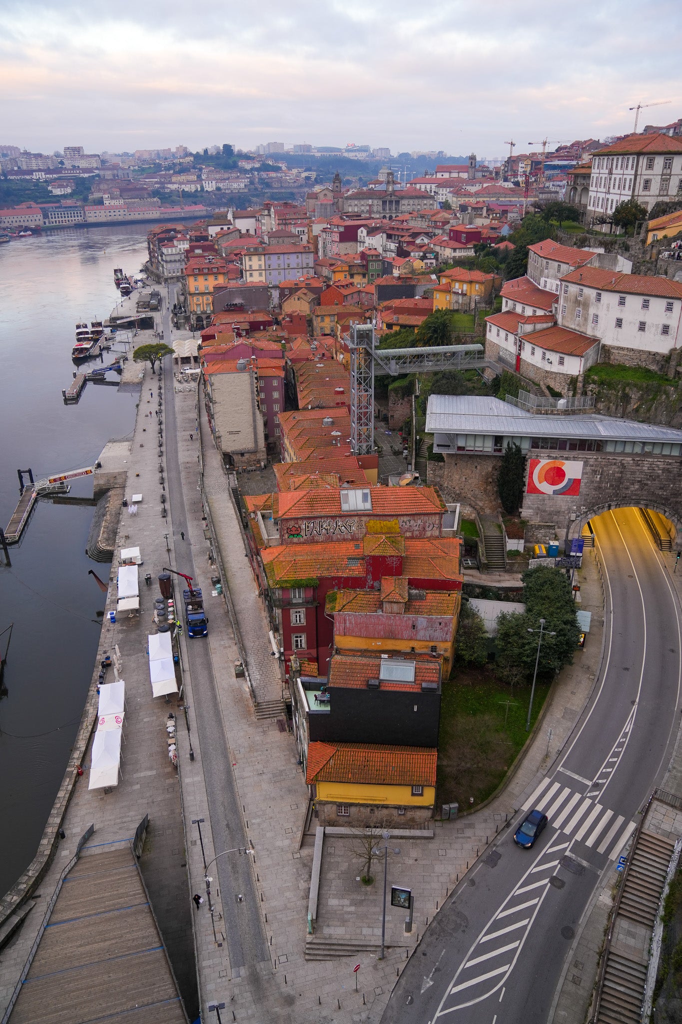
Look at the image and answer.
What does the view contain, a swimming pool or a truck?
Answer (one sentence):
Looking from above, you can make out a truck.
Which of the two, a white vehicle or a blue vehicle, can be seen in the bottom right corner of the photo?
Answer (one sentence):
Looking in the bottom right corner of the photo, you will find a blue vehicle.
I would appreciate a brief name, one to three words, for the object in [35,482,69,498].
pier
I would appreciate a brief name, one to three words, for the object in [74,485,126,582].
pier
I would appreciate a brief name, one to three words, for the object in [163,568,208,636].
truck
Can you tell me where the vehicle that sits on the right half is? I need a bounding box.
[515,805,547,846]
